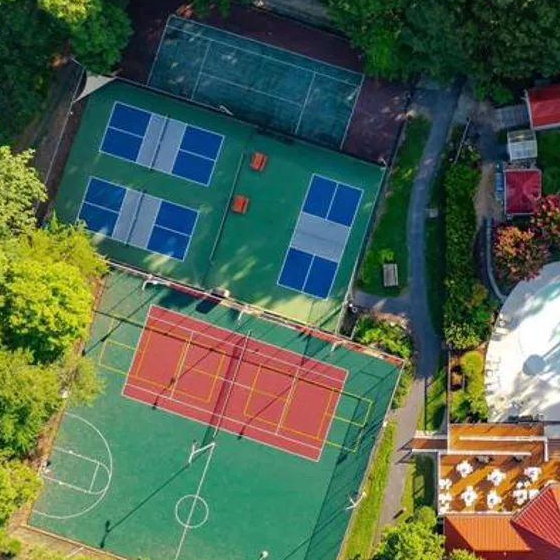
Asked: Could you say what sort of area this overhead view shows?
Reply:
sports ground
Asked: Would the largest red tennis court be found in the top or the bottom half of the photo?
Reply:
bottom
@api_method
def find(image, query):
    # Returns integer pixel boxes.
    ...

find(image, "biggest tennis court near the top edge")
[147,15,364,145]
